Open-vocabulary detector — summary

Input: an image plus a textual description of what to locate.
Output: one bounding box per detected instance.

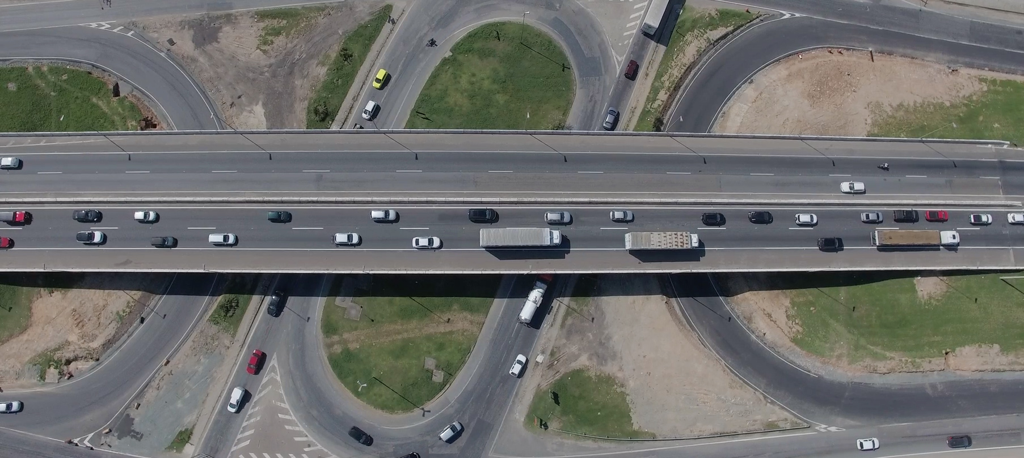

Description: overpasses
[0,130,1024,274]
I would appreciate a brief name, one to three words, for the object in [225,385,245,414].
vehicle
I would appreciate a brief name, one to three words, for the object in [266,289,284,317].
car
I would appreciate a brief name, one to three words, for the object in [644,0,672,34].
truck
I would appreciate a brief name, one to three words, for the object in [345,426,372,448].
car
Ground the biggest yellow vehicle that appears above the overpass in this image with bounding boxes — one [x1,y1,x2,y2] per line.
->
[372,67,388,88]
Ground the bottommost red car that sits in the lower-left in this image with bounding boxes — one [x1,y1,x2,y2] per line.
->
[245,349,263,377]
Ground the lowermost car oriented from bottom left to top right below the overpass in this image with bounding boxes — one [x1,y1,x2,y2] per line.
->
[436,421,463,447]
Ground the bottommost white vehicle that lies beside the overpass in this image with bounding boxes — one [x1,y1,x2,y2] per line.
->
[518,274,556,328]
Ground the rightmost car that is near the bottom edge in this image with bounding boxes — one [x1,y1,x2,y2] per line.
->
[947,436,975,450]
